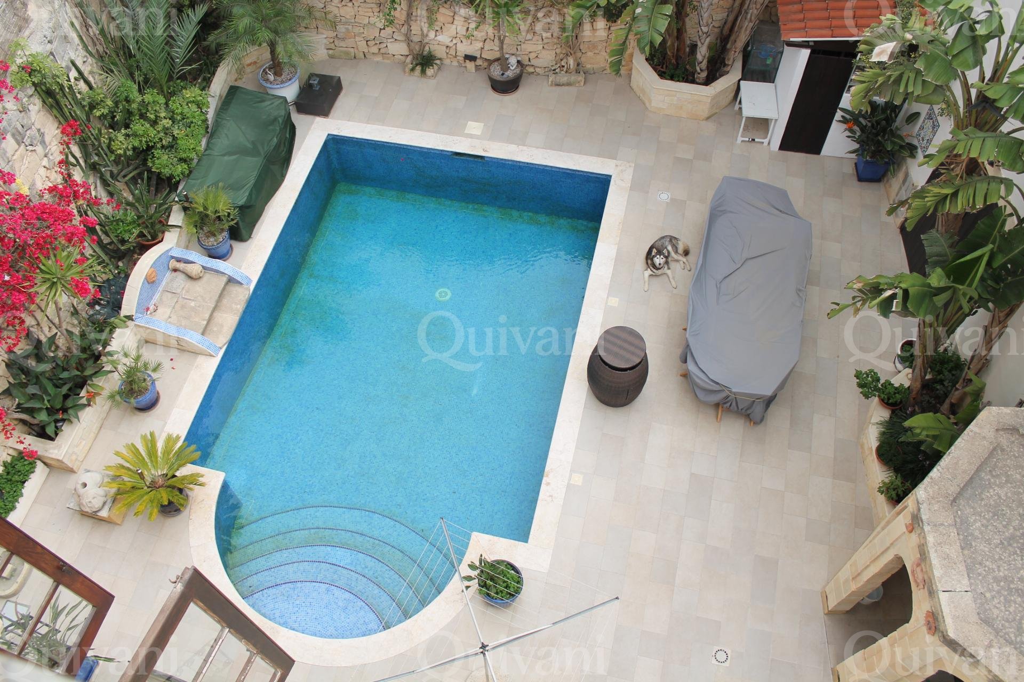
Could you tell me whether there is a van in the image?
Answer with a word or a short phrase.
No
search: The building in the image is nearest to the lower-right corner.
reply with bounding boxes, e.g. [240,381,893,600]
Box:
[823,401,1024,682]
